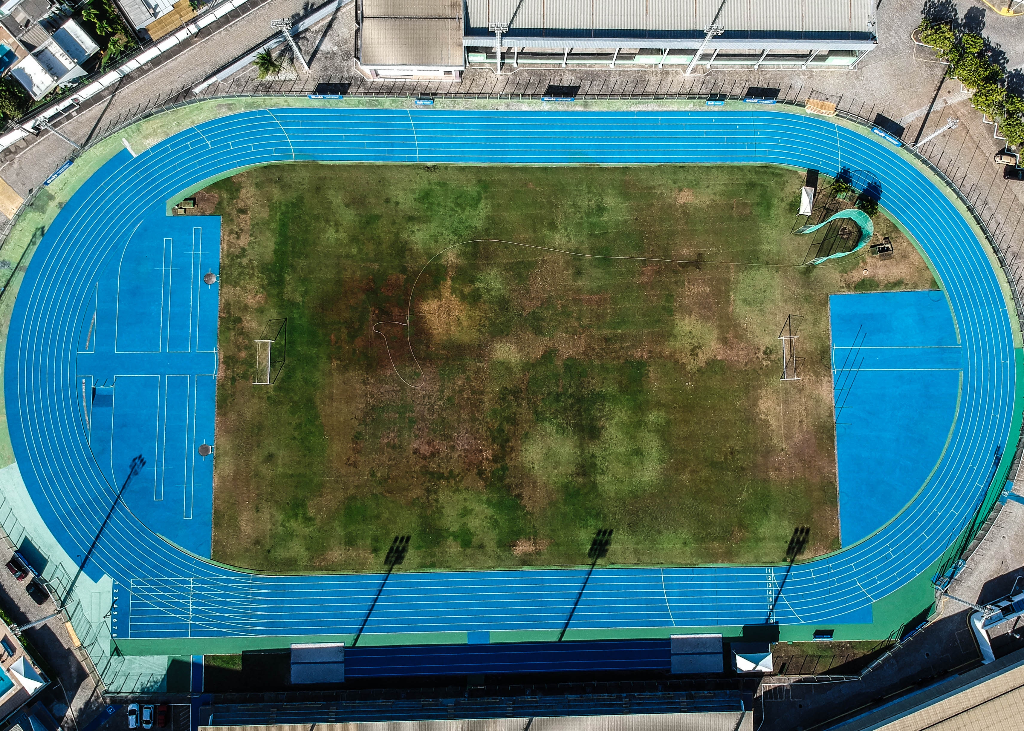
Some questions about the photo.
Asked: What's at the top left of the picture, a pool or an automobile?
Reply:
pool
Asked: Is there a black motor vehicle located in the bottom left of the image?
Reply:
Yes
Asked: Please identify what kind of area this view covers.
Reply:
sports ground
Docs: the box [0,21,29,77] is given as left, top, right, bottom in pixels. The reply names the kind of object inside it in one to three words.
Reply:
swimming pool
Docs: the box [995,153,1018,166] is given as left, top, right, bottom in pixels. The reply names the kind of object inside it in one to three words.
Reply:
vehicle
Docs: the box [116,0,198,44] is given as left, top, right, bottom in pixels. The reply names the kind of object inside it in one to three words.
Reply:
house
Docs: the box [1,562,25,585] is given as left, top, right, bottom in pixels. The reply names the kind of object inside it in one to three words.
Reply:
car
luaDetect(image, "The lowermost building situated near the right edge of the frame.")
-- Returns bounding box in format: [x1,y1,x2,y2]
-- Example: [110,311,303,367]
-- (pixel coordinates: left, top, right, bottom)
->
[829,651,1024,731]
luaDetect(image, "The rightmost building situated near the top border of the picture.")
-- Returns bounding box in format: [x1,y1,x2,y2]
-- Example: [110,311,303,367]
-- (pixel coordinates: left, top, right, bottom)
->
[355,0,465,80]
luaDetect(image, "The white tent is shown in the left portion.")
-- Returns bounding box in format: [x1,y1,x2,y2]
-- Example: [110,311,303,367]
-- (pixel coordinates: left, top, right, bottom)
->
[10,653,51,695]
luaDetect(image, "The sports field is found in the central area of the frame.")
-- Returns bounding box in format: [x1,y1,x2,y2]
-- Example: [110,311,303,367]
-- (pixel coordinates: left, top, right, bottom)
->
[177,165,940,572]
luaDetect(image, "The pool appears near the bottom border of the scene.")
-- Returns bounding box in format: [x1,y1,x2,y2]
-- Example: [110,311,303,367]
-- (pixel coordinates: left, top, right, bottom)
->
[0,623,48,722]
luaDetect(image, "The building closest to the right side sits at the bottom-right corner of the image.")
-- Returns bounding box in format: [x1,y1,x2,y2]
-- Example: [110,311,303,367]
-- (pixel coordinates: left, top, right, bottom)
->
[973,587,1024,639]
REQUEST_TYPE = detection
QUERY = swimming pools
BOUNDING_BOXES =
[0,21,29,77]
[0,623,48,722]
